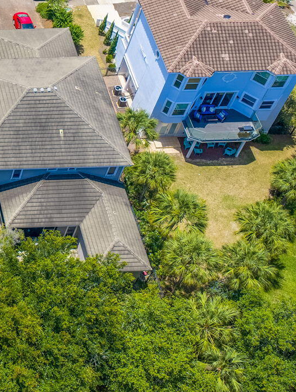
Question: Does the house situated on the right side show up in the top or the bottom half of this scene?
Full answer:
It is in the top half that the house situated on the right side appears.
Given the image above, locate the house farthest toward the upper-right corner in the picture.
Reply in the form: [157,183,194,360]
[74,0,296,162]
